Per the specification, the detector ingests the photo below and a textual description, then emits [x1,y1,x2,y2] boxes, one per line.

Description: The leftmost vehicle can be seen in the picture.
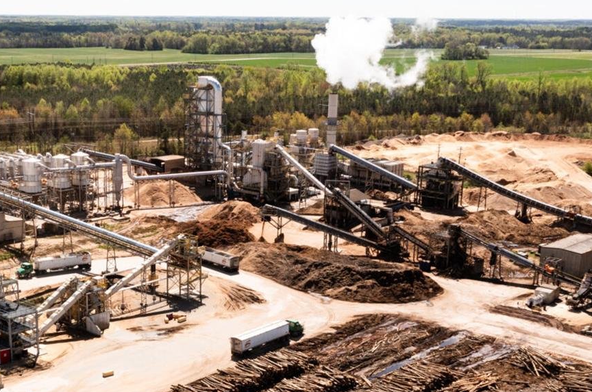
[19,255,91,275]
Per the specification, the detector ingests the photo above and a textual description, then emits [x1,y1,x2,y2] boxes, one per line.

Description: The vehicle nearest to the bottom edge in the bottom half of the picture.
[229,320,301,353]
